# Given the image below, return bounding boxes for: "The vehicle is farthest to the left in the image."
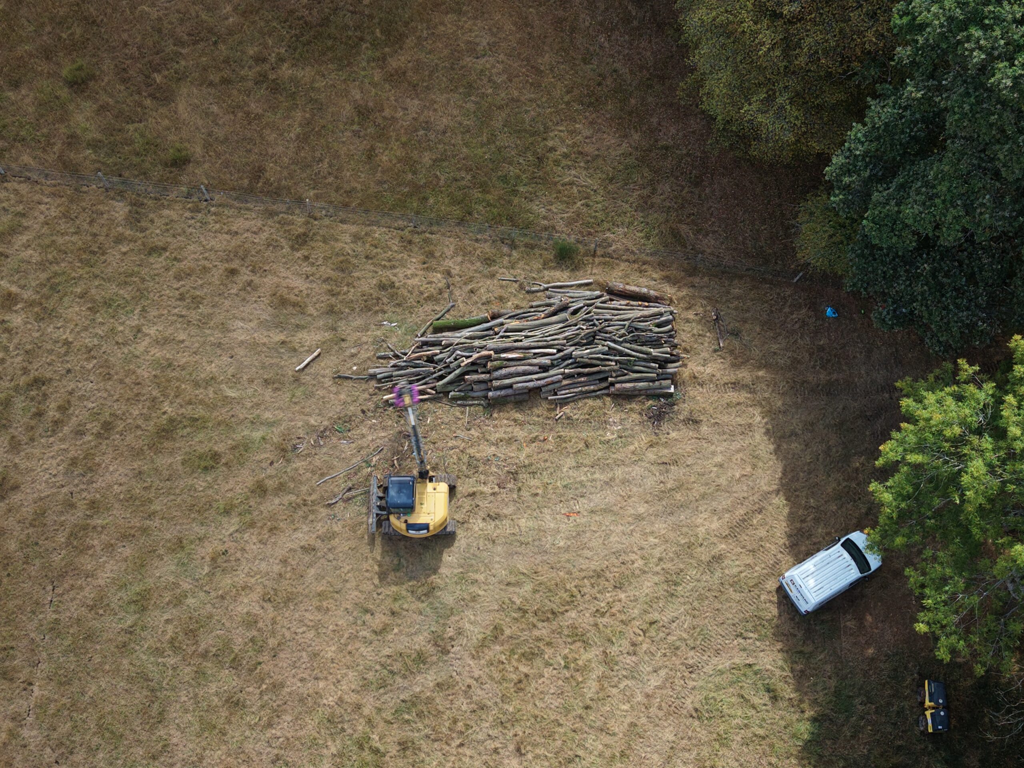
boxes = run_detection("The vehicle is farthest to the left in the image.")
[364,375,458,538]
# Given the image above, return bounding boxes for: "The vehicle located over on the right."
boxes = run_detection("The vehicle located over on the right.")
[777,529,882,616]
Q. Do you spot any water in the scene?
No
